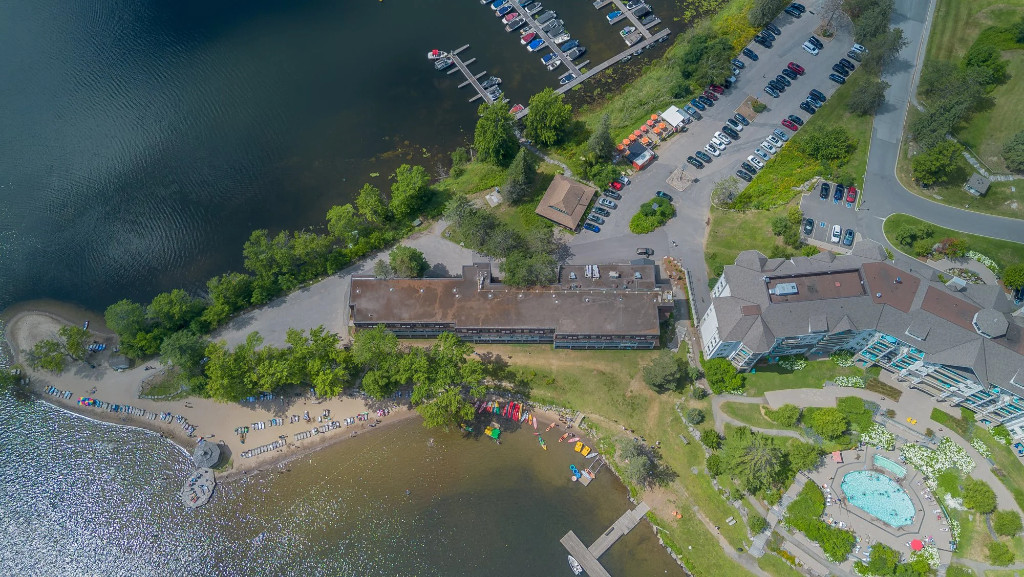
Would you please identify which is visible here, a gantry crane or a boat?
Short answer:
boat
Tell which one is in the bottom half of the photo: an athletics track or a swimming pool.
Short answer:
swimming pool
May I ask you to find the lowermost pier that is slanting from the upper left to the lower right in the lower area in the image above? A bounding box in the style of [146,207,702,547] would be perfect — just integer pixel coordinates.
[559,528,620,577]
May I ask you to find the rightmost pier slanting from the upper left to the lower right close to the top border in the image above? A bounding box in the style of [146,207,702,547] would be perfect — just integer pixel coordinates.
[613,0,653,40]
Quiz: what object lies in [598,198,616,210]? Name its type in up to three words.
vehicle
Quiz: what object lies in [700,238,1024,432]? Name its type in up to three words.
building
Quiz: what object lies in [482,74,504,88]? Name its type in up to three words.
boat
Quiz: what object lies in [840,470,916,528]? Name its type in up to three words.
swimming pool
